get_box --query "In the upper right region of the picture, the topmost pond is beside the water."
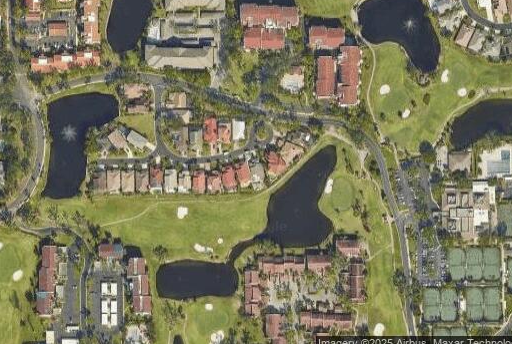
[359,0,441,71]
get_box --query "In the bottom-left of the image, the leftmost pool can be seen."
[127,325,145,344]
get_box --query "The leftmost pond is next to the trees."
[43,94,118,197]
